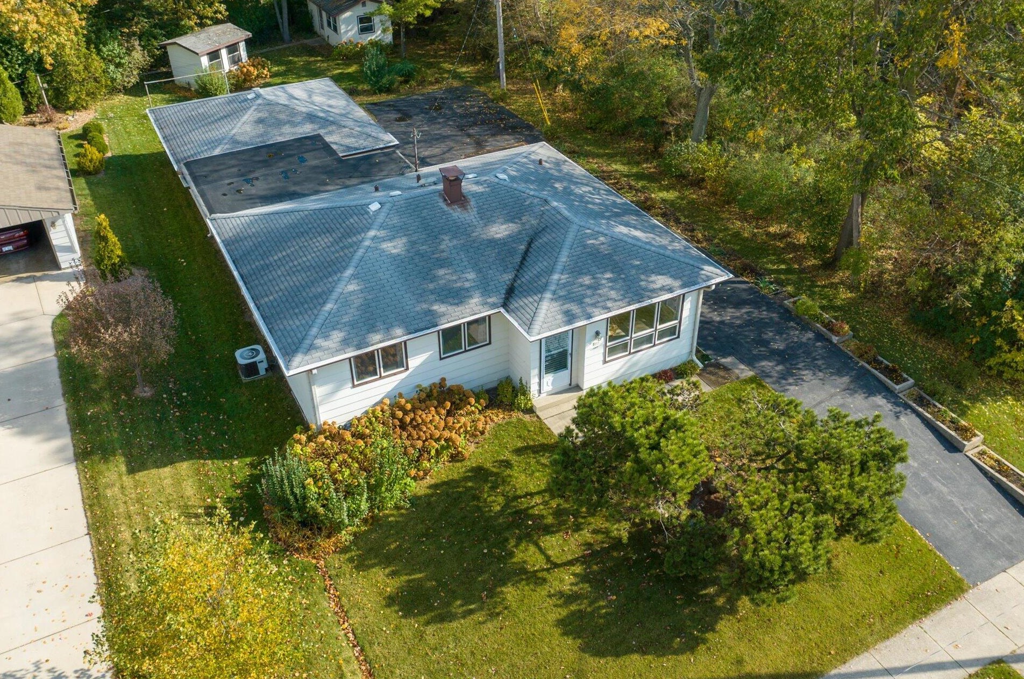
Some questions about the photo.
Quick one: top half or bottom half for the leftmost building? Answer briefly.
top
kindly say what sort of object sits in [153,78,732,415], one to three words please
house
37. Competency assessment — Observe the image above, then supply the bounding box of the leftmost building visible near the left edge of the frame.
[0,123,83,283]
